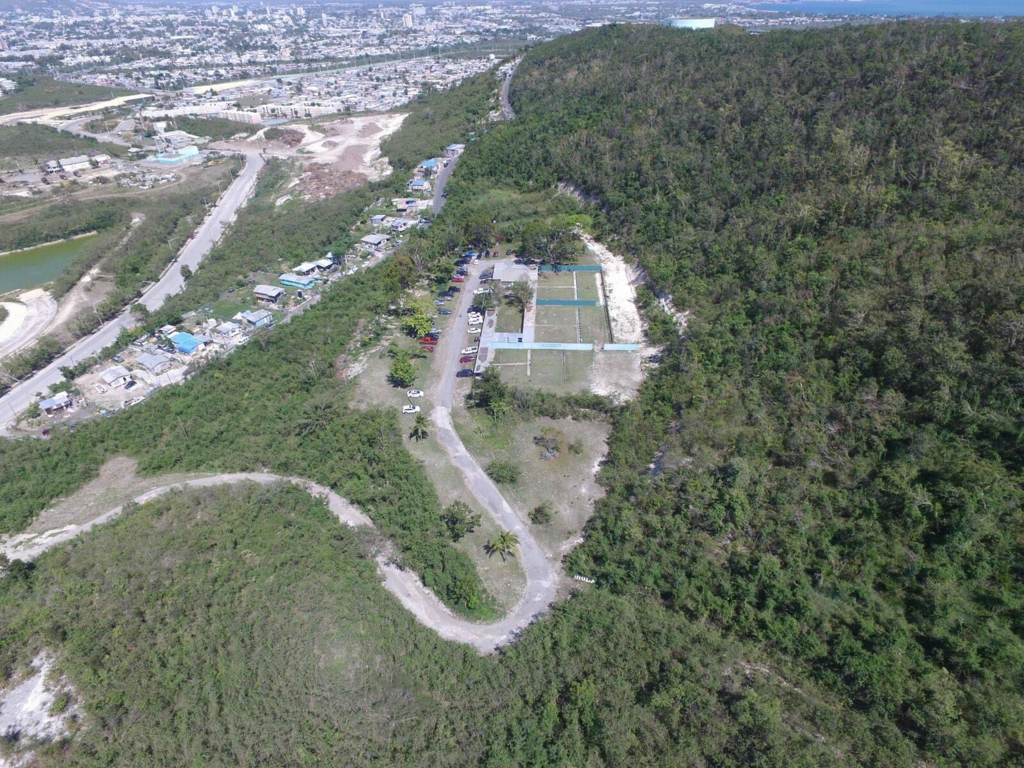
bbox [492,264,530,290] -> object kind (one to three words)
building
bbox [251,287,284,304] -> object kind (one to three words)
house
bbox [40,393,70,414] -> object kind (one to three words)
shed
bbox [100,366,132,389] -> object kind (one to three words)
house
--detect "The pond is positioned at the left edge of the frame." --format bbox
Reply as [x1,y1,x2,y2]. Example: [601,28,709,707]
[0,237,86,293]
